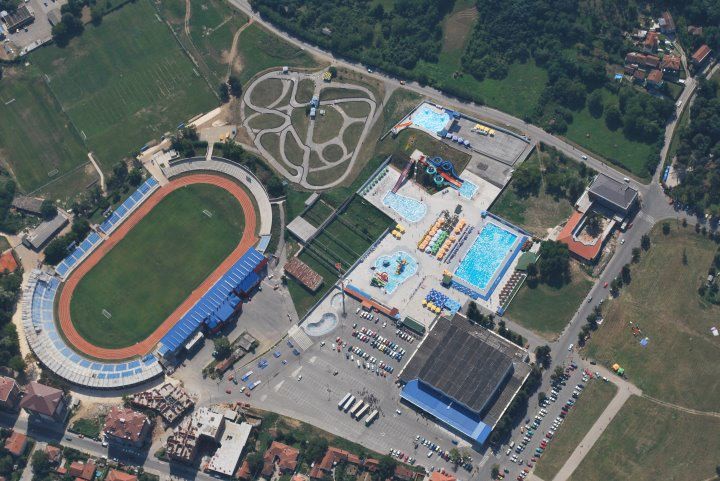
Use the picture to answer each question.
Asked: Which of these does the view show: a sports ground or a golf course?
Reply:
sports ground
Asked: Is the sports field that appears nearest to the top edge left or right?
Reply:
left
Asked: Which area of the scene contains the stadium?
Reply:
left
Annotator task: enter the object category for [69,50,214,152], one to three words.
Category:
sports field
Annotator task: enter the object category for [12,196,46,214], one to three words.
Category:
building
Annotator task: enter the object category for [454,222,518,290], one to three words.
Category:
swimming pool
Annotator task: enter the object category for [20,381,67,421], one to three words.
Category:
house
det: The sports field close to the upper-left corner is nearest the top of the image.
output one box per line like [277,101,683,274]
[37,4,170,98]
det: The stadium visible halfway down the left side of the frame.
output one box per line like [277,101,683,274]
[24,155,273,391]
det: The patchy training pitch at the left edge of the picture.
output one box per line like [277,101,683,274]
[0,84,79,194]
